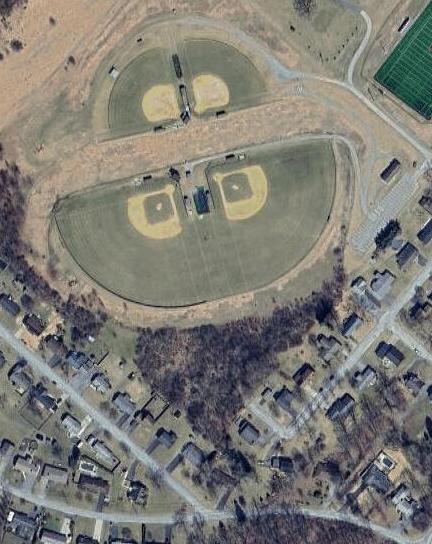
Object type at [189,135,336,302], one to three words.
baseball field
